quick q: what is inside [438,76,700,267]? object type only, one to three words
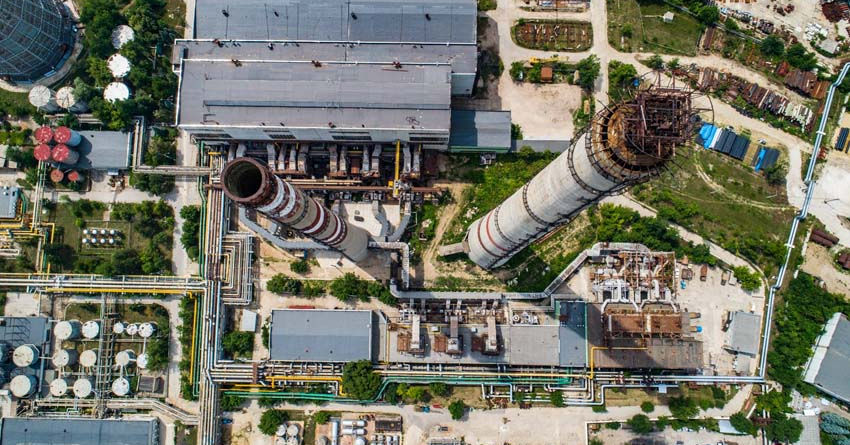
chimney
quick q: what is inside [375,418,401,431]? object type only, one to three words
shed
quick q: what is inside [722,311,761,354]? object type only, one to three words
building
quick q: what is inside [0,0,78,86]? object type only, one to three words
cooling tower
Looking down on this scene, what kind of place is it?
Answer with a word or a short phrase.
industrial area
